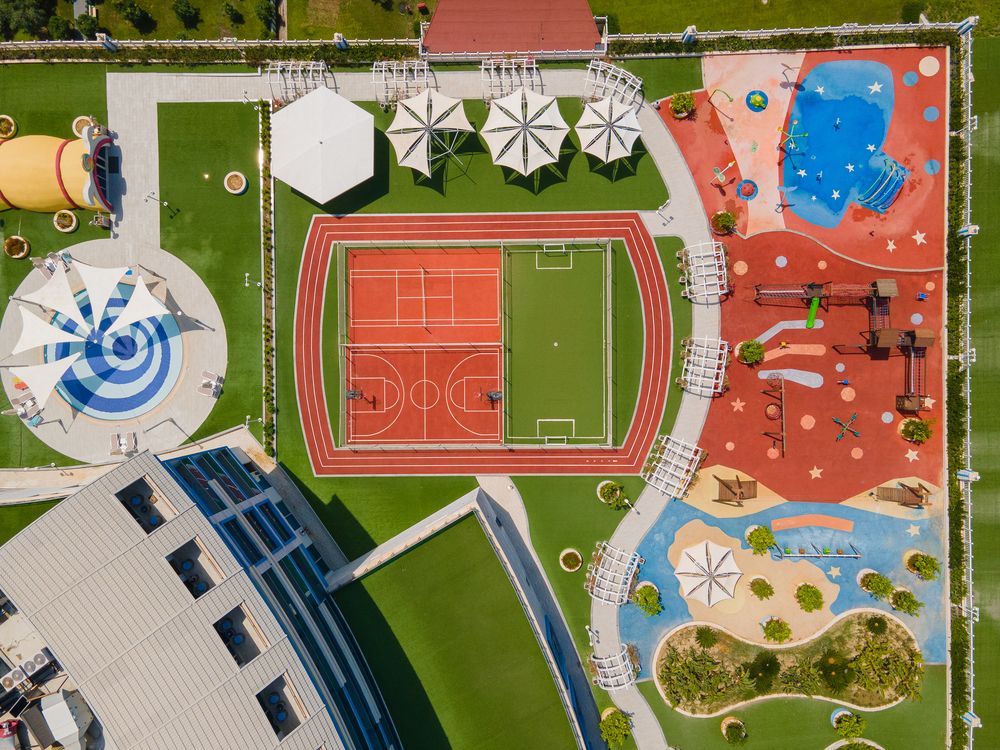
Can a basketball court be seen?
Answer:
Yes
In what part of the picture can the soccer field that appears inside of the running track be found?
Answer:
center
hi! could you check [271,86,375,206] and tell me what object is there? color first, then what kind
white tent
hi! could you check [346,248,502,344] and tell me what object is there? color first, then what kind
red tennis court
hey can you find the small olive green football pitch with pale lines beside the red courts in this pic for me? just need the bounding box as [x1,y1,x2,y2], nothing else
[503,244,607,445]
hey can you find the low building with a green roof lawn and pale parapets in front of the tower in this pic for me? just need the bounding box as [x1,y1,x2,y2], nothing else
[320,489,587,750]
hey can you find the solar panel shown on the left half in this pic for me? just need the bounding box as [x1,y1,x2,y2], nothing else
[8,694,31,718]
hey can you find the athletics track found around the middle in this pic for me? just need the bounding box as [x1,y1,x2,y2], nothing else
[293,210,675,478]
